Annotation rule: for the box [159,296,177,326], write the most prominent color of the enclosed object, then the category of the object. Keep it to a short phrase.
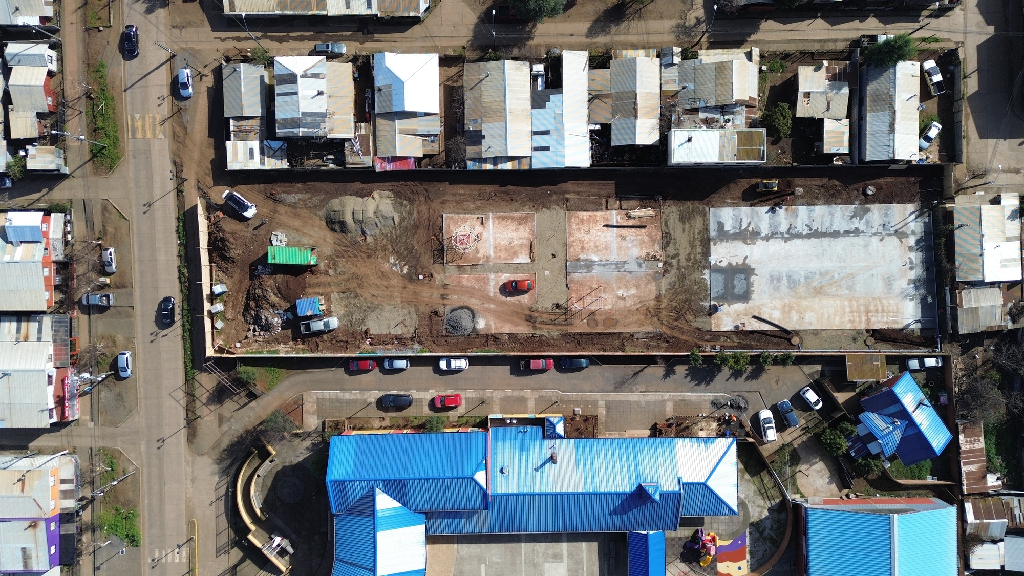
black car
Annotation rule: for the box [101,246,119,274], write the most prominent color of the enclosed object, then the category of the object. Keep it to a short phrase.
gray car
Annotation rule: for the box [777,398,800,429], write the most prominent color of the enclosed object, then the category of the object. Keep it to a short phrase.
blue car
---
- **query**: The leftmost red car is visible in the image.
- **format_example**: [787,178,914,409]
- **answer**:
[350,357,378,373]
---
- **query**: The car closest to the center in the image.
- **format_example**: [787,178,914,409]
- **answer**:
[505,278,535,294]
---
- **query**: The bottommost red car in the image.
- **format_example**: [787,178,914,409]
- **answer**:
[434,393,462,410]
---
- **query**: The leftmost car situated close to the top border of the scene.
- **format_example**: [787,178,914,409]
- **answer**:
[122,25,142,57]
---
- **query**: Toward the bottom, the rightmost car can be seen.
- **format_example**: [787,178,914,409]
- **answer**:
[904,355,943,370]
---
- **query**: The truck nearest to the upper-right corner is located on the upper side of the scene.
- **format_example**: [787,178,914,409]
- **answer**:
[921,59,947,98]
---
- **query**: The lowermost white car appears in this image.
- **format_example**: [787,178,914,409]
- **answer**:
[758,408,777,443]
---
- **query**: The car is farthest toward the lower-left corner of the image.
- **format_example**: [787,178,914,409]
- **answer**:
[116,349,135,378]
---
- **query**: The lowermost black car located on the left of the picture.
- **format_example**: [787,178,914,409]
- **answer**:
[382,392,413,409]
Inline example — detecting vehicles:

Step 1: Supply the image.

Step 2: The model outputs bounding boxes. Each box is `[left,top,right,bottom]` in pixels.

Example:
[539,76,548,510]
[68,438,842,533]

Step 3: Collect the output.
[178,68,196,98]
[560,356,590,371]
[350,357,378,373]
[904,355,943,370]
[919,119,942,150]
[439,356,469,372]
[382,392,413,409]
[116,349,135,378]
[83,292,116,309]
[755,178,781,193]
[101,246,119,274]
[298,316,339,335]
[758,408,777,443]
[777,398,800,429]
[122,25,142,57]
[530,60,547,90]
[520,356,554,373]
[921,59,947,98]
[314,40,347,58]
[505,278,535,294]
[159,296,177,326]
[222,189,256,218]
[434,393,462,410]
[798,384,822,412]
[384,356,411,372]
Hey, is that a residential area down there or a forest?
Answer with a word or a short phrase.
residential area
